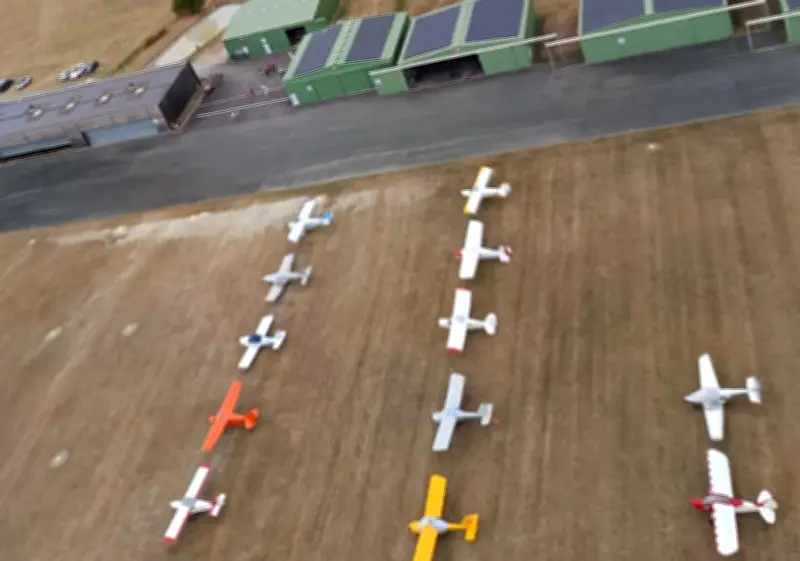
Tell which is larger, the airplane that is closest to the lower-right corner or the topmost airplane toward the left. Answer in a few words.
the airplane that is closest to the lower-right corner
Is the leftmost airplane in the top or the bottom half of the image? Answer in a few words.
bottom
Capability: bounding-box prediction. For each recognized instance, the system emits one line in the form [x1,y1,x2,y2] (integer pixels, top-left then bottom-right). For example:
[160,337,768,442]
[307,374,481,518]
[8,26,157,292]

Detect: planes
[409,474,482,561]
[200,379,262,452]
[687,454,780,558]
[437,286,502,352]
[262,255,316,301]
[286,195,334,238]
[683,358,763,442]
[455,220,515,277]
[430,374,495,451]
[460,164,512,212]
[236,316,288,369]
[166,466,230,548]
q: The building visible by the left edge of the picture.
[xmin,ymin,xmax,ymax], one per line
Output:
[0,59,209,163]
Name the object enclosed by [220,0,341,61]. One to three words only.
hangar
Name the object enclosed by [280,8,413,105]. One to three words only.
hangar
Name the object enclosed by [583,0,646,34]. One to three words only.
solar array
